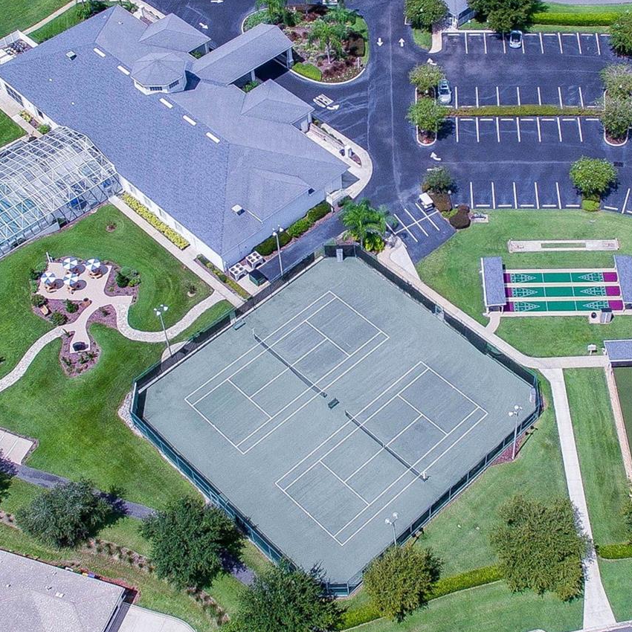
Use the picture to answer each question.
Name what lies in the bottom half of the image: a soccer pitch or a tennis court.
tennis court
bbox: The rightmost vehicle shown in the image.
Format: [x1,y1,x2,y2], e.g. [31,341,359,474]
[510,28,524,48]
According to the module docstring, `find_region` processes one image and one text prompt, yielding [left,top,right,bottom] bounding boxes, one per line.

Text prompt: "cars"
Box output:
[439,80,453,103]
[510,28,524,48]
